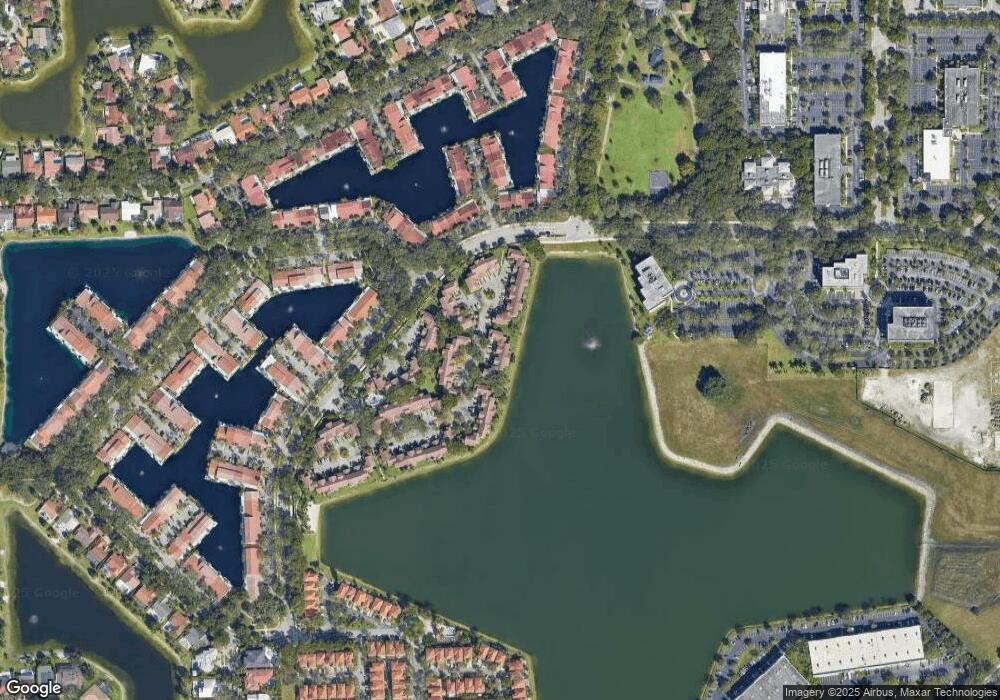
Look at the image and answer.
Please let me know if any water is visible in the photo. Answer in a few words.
Yes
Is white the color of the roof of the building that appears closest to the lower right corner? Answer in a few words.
Yes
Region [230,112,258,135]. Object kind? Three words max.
house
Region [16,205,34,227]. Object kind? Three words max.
house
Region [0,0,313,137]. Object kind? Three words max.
pond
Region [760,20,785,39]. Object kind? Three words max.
building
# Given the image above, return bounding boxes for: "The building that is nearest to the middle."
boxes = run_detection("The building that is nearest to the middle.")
[487,329,512,373]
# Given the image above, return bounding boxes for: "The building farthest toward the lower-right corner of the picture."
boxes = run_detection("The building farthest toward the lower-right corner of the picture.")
[808,625,924,674]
